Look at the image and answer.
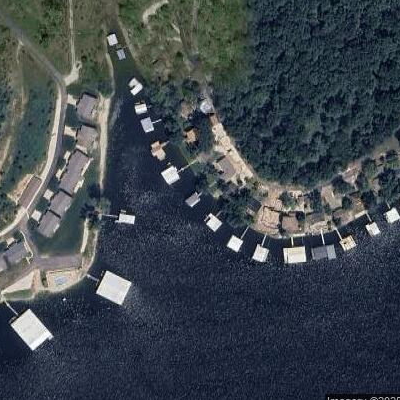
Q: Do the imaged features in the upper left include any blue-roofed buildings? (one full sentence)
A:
No, looking in the upper left, there is no blue-roofed building.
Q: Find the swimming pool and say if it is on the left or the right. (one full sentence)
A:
It is on the left.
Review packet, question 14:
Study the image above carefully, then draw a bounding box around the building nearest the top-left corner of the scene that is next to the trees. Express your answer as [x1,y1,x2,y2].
[78,96,99,121]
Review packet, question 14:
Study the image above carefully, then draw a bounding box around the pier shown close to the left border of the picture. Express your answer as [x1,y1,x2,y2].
[5,299,54,350]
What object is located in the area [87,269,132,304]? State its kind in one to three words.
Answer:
pier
